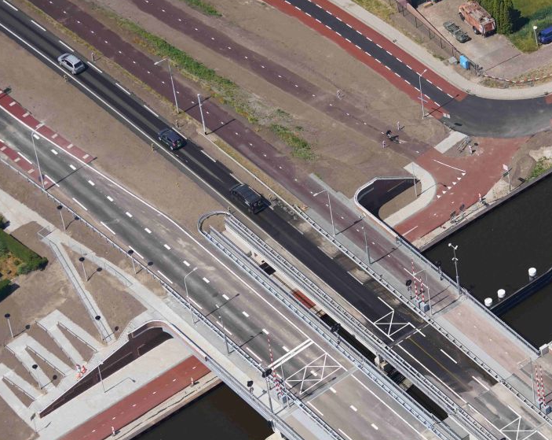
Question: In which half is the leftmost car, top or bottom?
top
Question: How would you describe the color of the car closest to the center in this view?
black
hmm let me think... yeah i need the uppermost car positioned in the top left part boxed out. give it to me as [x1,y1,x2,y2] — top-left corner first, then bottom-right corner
[53,52,92,77]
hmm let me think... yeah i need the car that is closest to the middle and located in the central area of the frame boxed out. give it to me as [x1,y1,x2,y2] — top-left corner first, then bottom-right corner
[228,180,273,212]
